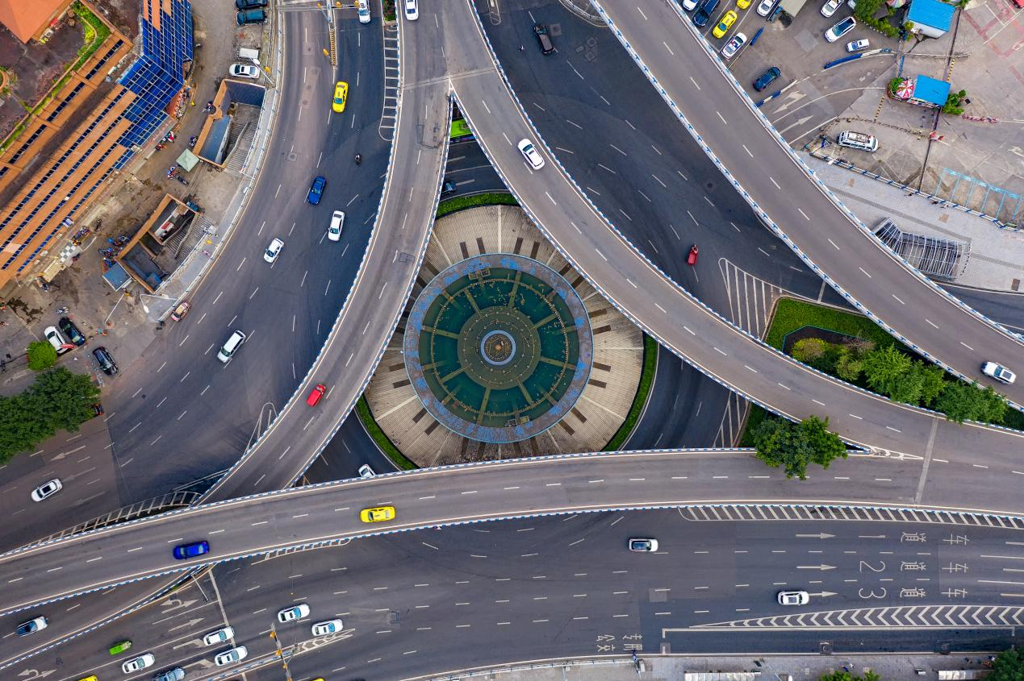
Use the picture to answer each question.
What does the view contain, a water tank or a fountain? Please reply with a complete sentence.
Of the two, only a fountain appears.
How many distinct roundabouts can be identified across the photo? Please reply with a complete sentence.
Just 1 roundabout appears in this view.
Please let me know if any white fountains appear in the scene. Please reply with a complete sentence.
No, I can't see a single white fountain in this photo.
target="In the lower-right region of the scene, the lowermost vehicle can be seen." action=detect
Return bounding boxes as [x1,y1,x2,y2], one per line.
[776,589,808,604]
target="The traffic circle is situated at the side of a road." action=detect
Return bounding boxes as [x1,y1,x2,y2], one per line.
[351,188,659,472]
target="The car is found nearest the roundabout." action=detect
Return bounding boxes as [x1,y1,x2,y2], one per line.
[439,180,465,197]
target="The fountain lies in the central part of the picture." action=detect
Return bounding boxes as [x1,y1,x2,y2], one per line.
[403,252,594,444]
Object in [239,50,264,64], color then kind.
white vehicle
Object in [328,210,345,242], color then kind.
white car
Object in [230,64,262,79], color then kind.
white car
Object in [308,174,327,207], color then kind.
blue car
